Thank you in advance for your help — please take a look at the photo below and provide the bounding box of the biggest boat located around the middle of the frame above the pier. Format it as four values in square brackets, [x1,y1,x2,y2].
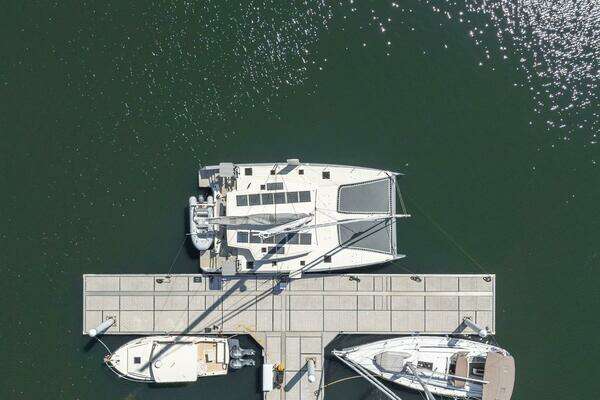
[192,158,408,278]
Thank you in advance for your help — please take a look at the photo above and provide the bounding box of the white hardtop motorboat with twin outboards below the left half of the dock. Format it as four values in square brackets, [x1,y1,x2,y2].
[103,334,257,384]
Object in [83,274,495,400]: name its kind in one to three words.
pier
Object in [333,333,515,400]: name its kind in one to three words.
boat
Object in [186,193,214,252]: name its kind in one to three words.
boat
